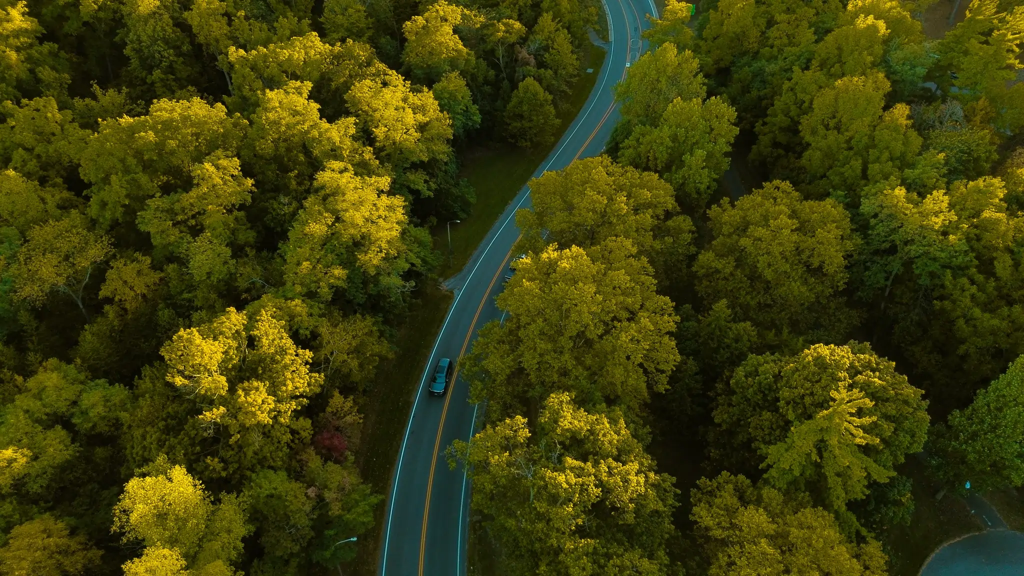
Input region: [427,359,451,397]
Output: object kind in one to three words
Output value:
car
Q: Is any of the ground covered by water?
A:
No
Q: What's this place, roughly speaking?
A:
forest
